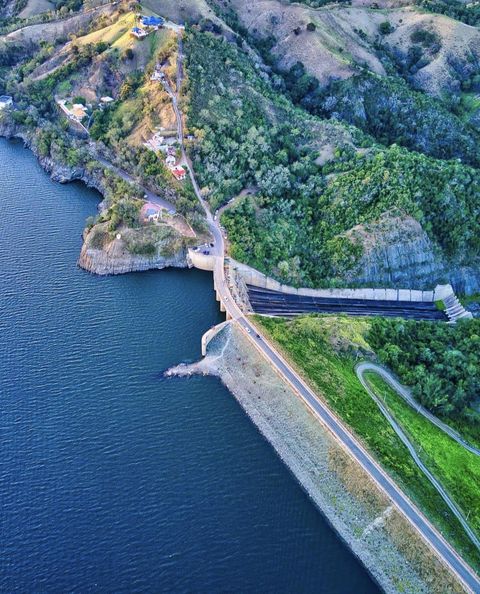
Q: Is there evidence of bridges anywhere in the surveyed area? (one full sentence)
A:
Yes, looking at the shot, I can spot a bridge.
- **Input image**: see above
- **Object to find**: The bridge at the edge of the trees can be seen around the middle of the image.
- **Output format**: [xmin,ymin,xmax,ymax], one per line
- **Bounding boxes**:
[210,240,266,332]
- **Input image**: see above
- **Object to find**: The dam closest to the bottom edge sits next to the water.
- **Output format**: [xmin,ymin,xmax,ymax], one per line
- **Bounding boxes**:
[203,319,480,594]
